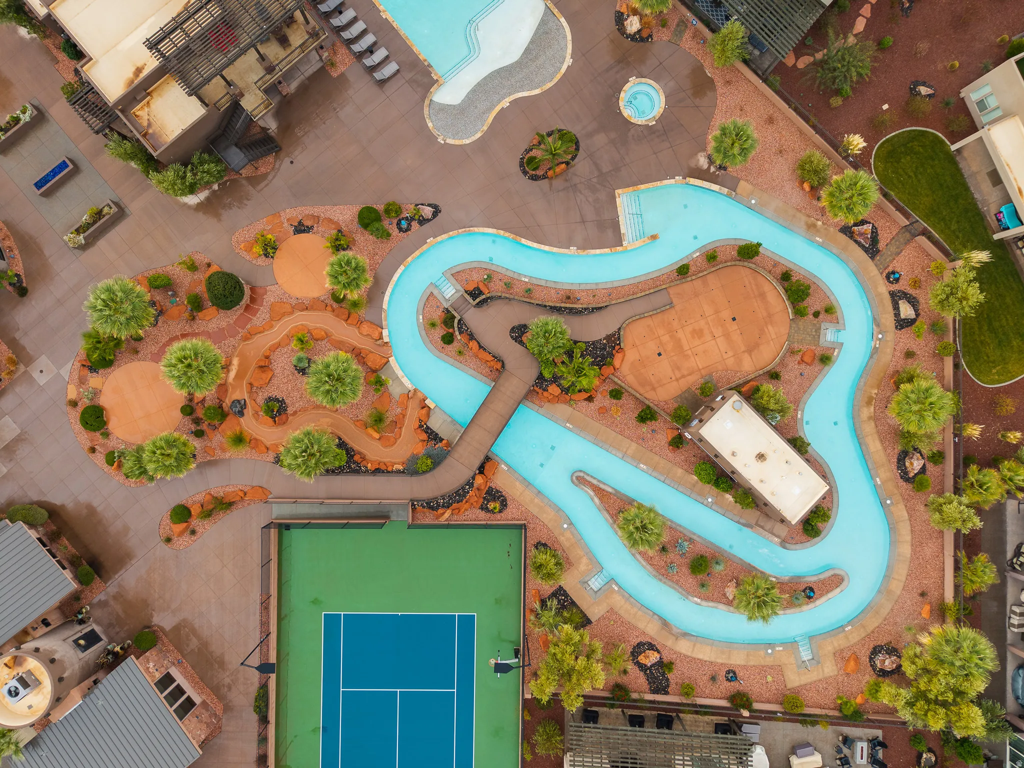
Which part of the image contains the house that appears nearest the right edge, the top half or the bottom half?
top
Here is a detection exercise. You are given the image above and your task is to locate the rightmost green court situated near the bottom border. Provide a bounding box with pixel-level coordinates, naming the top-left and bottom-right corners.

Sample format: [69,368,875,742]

[280,523,521,768]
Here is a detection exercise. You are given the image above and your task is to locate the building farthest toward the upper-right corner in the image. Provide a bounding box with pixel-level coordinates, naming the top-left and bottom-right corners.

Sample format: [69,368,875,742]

[960,52,1024,145]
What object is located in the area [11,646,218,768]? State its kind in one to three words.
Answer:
building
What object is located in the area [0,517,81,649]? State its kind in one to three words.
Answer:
building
